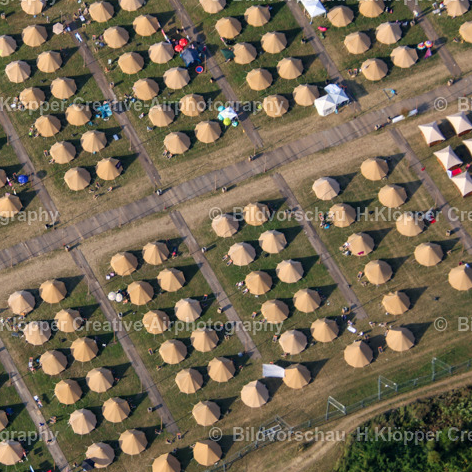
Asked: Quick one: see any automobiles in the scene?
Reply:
No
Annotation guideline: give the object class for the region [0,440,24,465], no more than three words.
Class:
tent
